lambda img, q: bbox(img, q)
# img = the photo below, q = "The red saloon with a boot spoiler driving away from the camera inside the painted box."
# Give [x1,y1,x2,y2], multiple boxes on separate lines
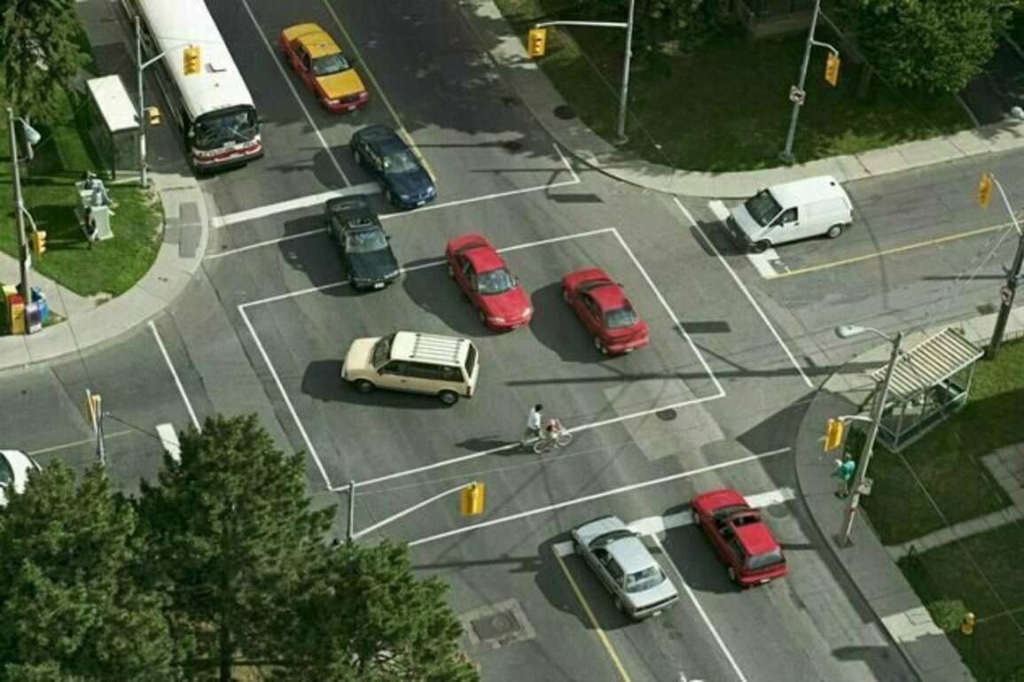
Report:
[558,263,655,357]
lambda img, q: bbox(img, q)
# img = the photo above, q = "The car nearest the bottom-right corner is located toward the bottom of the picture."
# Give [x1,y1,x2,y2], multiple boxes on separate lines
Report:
[689,484,790,589]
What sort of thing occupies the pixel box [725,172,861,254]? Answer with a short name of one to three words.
van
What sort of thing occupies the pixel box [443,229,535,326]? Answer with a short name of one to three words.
car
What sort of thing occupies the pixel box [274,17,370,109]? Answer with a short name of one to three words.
car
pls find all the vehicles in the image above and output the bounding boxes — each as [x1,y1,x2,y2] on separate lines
[321,186,401,284]
[340,329,482,404]
[443,229,535,326]
[349,119,437,207]
[725,172,861,254]
[558,263,655,357]
[0,457,43,512]
[689,484,790,589]
[114,0,274,170]
[567,511,679,624]
[274,17,370,109]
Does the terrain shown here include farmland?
No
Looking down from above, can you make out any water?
No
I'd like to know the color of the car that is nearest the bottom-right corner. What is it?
red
